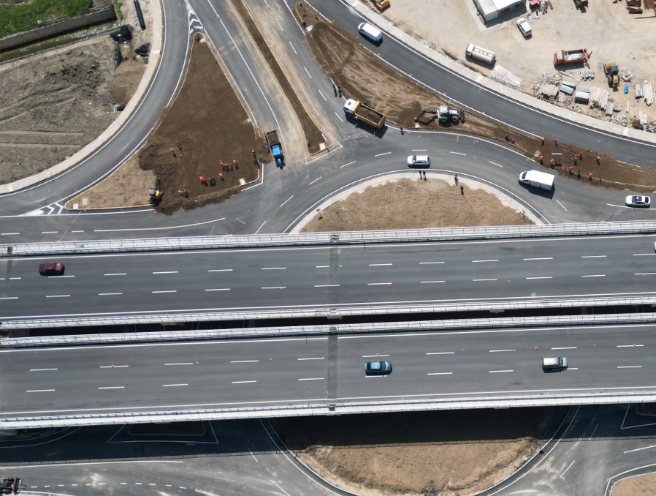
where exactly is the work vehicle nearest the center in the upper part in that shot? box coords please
[270,146,286,168]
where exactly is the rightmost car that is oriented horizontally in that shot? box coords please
[625,194,650,207]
